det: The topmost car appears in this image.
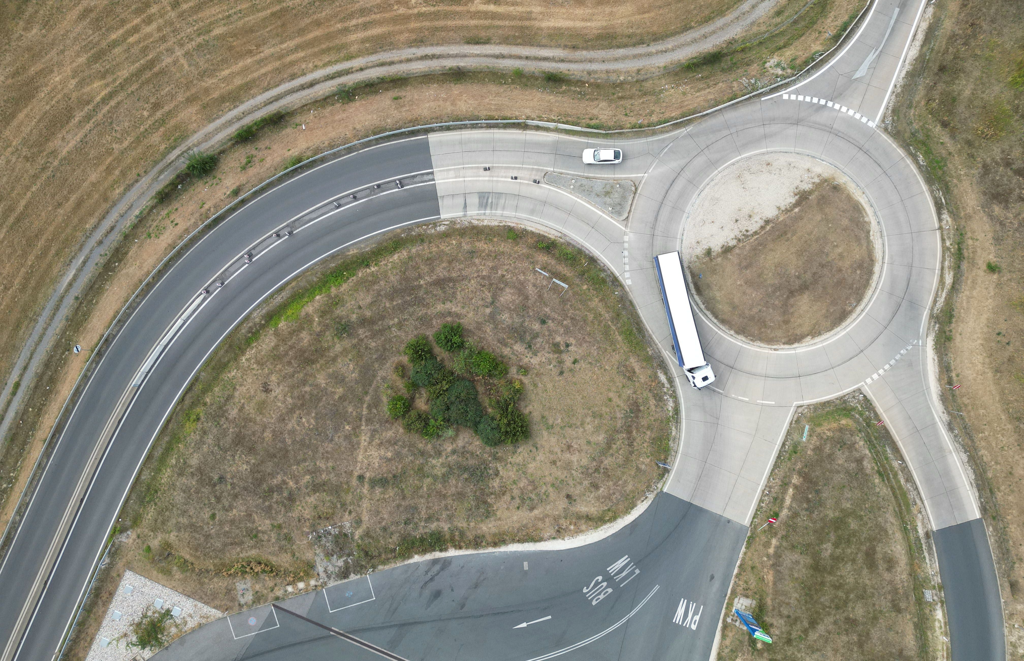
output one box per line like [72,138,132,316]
[582,145,622,165]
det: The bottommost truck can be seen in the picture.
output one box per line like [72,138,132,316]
[652,251,715,390]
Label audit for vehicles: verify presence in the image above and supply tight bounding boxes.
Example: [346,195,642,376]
[652,251,715,390]
[582,145,622,165]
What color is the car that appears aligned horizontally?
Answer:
white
